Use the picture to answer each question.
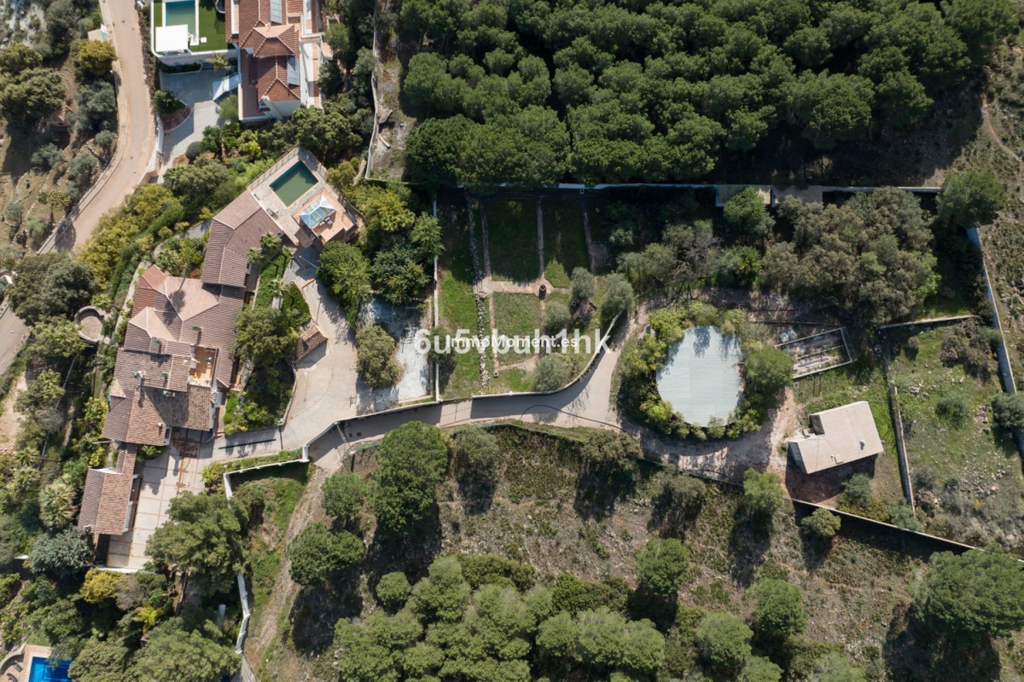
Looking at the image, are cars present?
No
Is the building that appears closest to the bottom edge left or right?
left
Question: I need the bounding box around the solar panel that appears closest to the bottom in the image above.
[287,56,299,85]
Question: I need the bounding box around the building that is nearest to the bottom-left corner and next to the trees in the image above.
[77,443,151,535]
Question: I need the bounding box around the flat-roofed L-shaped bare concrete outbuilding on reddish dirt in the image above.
[788,400,883,474]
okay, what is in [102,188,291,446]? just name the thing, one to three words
house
